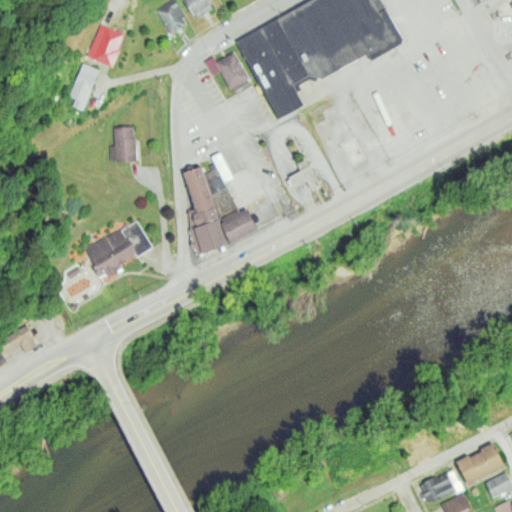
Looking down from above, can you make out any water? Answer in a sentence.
Yes, water can be seen from above here.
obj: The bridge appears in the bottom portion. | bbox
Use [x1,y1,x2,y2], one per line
[96,352,194,512]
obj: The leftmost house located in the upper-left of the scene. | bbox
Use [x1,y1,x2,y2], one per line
[72,63,98,112]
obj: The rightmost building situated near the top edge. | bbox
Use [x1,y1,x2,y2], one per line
[235,0,402,118]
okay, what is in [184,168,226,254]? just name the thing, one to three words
building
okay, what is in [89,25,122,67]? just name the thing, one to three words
house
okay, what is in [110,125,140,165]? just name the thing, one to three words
house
